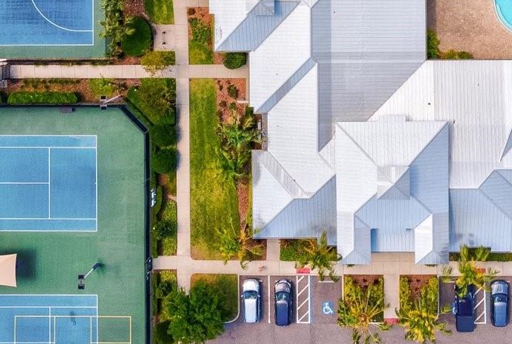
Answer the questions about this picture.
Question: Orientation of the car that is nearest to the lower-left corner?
from top to bottom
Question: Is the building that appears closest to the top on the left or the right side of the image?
right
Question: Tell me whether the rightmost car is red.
No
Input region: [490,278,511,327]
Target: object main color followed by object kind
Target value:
blue car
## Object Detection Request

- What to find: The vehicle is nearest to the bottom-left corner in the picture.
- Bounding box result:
[241,278,261,324]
